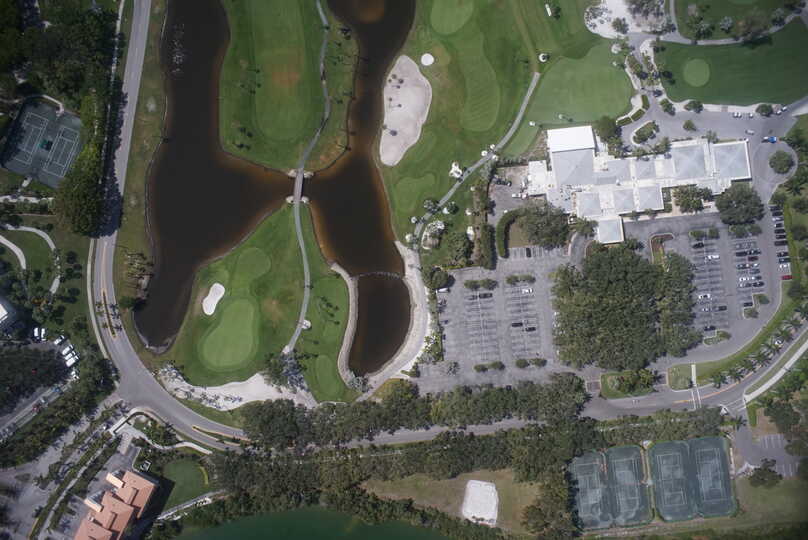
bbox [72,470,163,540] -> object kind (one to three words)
building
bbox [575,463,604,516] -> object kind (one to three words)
tennis court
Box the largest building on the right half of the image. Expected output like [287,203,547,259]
[528,126,752,246]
